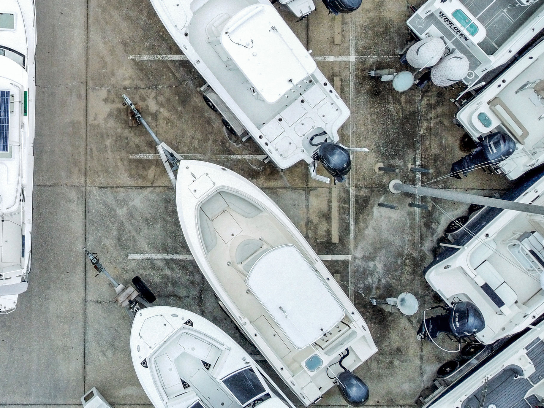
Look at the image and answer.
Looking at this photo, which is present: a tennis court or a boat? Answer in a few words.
boat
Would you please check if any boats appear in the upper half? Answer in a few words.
Yes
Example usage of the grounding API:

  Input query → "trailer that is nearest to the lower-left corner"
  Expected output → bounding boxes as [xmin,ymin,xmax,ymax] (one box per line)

[89,241,161,321]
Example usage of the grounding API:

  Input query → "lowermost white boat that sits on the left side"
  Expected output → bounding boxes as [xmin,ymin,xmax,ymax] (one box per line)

[132,301,297,408]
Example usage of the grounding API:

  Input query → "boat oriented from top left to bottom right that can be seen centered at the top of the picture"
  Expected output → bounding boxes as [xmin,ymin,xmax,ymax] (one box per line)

[157,0,369,182]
